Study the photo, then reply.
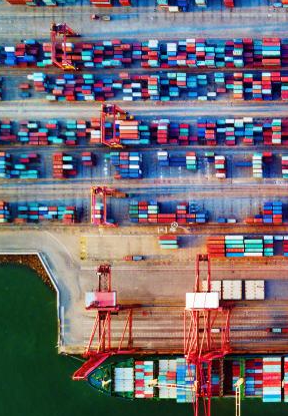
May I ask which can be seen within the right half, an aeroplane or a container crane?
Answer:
container crane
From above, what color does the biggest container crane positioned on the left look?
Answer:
red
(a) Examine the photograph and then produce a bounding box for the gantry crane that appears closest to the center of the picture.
[91,188,121,231]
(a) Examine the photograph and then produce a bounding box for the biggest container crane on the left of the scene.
[70,265,151,386]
